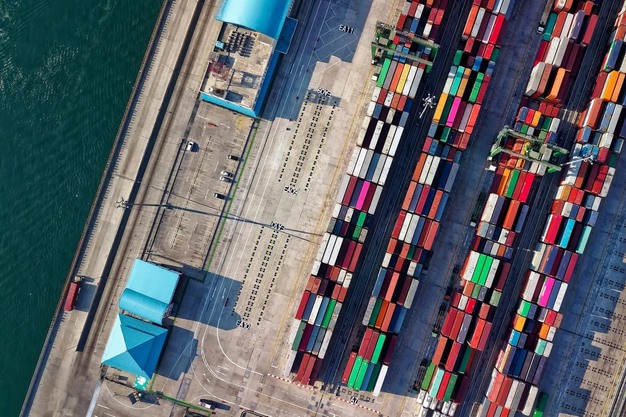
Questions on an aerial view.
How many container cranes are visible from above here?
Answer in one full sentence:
The picture shows 2 container cranes.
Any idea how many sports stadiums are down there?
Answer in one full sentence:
I count no sports stadiums.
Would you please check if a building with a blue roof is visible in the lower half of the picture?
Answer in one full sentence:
Yes, looking in the lower half of the picture, one can make out a building with a blue roof.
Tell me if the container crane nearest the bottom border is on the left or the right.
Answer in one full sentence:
The container crane nearest the bottom border sits on the right side.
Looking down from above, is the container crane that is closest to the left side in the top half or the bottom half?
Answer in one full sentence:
The container crane that is closest to the left side is in the top half of the image.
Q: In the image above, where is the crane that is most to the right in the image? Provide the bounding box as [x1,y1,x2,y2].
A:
[482,124,570,180]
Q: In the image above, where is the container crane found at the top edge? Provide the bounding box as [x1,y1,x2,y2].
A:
[370,20,443,87]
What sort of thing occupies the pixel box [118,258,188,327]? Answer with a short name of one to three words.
building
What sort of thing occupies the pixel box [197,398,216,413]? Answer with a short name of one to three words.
vehicle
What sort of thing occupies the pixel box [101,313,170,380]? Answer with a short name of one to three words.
building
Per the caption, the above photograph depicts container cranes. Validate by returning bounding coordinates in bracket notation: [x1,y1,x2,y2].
[370,20,443,87]
[482,124,570,180]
